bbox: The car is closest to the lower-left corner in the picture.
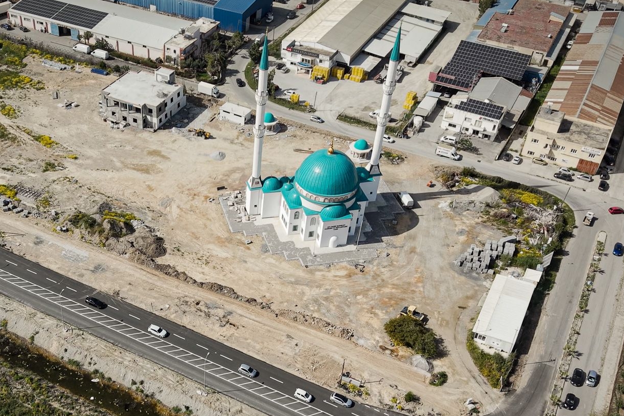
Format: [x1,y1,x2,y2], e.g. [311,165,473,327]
[86,297,107,310]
